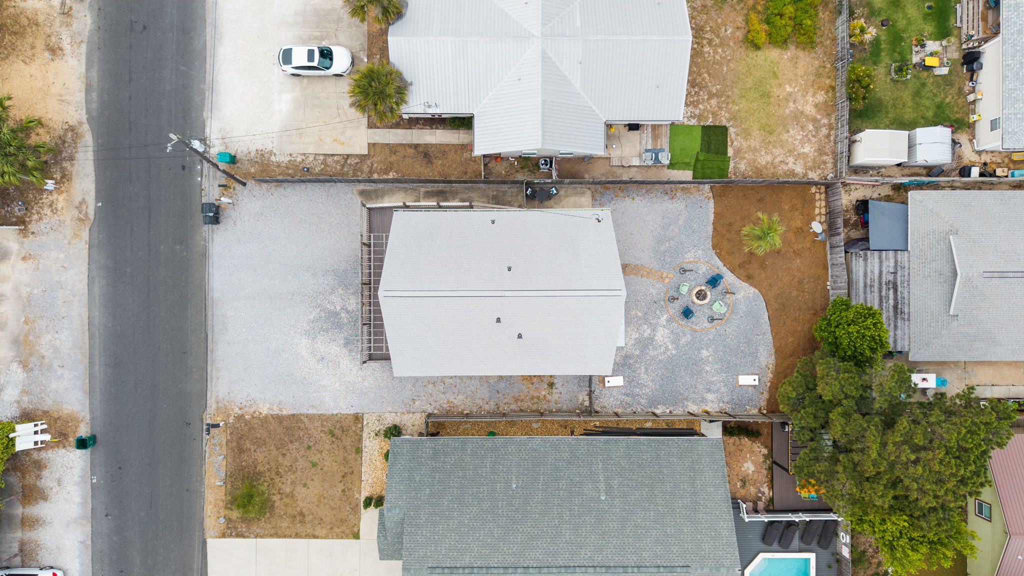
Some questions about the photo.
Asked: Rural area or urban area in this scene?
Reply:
urban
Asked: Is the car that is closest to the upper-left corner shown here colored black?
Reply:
No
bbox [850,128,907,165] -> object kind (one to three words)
shed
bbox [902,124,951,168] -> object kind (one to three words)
shed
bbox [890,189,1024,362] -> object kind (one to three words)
house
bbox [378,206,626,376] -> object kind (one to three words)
house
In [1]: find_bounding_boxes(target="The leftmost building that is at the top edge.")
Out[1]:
[387,0,692,158]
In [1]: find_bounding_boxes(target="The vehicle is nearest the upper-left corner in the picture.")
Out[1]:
[276,39,354,78]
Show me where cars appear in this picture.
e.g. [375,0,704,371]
[0,566,62,576]
[276,39,354,78]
